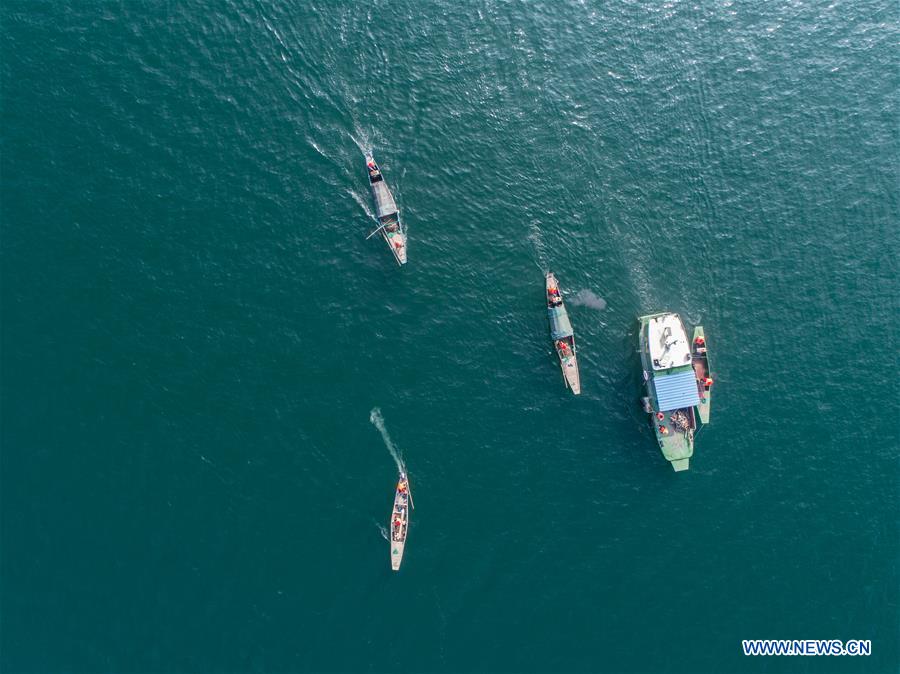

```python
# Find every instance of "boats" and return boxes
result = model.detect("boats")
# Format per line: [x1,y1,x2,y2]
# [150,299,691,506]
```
[638,312,700,472]
[546,263,580,395]
[693,326,712,424]
[365,145,406,265]
[390,464,409,572]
